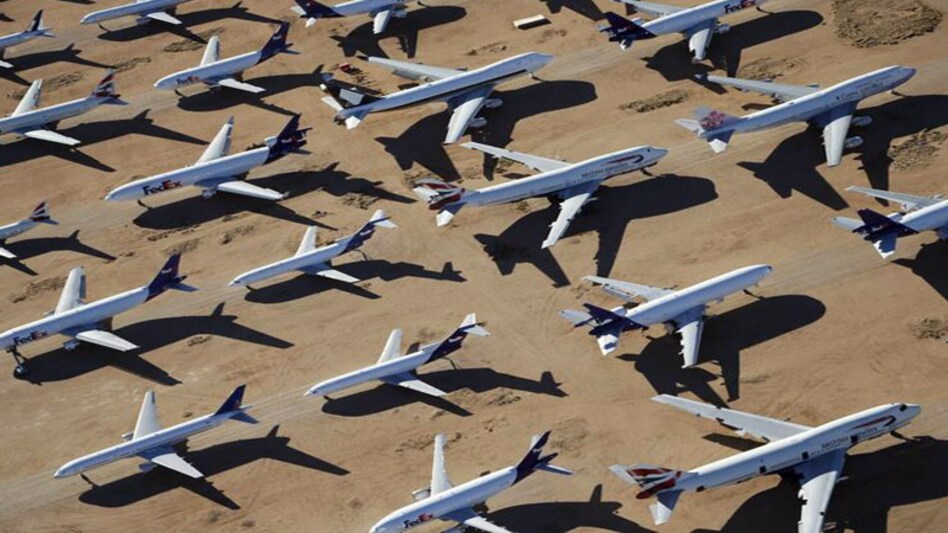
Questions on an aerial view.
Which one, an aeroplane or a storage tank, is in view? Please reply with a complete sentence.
Looking from above, you can make out an aeroplane.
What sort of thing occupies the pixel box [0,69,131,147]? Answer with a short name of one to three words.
airplane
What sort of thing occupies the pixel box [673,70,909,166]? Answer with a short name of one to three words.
airplane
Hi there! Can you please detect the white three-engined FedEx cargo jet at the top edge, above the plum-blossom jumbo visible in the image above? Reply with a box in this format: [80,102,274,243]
[600,0,788,61]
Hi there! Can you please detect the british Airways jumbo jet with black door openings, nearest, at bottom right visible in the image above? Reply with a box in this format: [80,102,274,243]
[607,396,918,533]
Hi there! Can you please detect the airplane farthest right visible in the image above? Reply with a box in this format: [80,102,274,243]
[830,185,948,257]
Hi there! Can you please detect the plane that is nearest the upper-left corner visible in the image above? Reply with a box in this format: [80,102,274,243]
[0,11,56,51]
